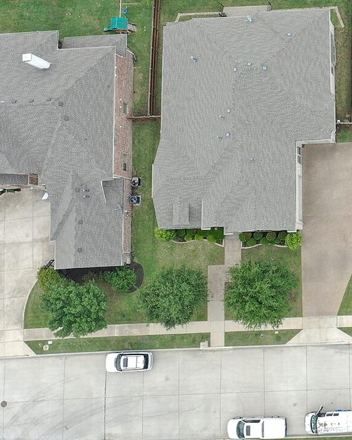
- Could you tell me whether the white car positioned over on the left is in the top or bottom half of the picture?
bottom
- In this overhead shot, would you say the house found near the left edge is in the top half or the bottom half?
top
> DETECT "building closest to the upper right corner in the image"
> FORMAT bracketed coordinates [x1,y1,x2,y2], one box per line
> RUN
[151,8,339,235]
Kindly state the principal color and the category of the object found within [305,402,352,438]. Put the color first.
white van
